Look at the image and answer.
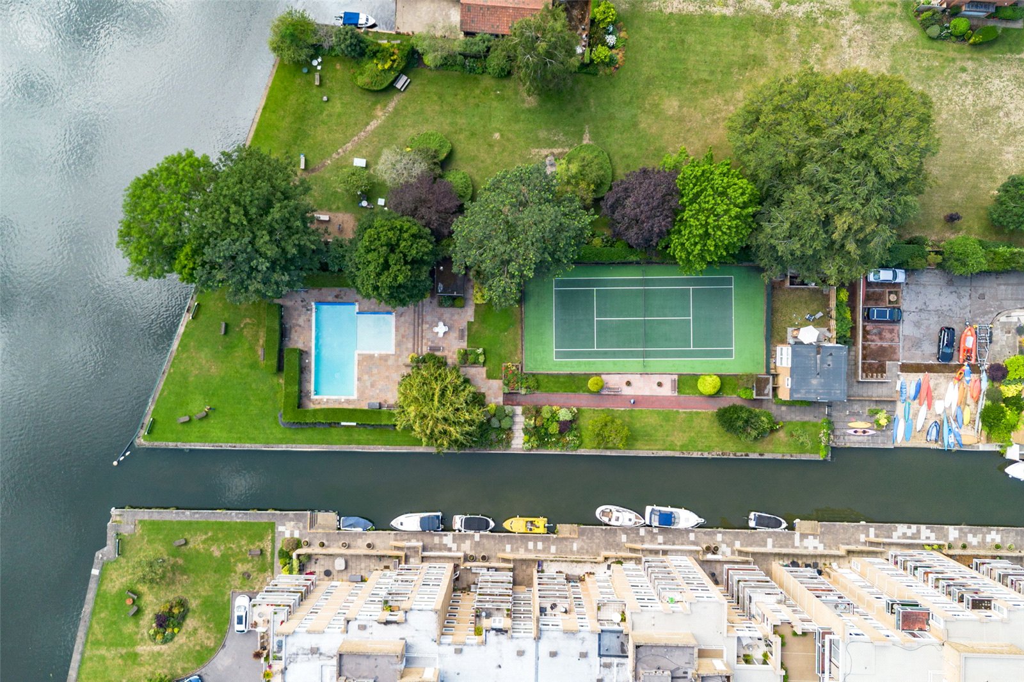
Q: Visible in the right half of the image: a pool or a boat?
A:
boat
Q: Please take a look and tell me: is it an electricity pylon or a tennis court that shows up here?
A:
tennis court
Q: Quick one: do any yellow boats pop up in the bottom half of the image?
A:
Yes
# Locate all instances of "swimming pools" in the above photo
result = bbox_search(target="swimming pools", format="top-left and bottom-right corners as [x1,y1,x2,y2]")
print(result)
[306,301,396,401]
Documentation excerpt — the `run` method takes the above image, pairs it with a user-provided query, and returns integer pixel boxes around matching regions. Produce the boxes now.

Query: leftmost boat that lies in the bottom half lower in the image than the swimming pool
[339,514,373,531]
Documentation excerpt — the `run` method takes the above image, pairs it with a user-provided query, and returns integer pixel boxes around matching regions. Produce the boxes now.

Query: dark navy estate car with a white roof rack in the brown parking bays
[866,306,903,322]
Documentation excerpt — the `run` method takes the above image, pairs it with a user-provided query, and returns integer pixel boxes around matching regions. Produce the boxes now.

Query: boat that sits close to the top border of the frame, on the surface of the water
[332,9,376,26]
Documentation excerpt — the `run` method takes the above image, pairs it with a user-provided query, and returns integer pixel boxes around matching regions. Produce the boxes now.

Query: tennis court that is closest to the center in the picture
[525,264,766,374]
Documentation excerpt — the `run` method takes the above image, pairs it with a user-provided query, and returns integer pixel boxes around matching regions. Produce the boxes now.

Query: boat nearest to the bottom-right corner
[1001,462,1024,482]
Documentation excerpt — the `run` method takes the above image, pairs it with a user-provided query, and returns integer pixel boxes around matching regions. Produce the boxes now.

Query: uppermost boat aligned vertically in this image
[960,324,978,366]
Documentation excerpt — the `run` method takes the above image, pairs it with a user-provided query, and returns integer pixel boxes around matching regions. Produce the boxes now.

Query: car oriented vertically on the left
[230,596,248,634]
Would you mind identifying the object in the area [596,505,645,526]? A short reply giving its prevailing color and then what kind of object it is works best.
white boat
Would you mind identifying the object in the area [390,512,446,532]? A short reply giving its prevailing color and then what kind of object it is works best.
white boat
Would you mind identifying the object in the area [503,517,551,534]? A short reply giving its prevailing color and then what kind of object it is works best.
yellow boat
